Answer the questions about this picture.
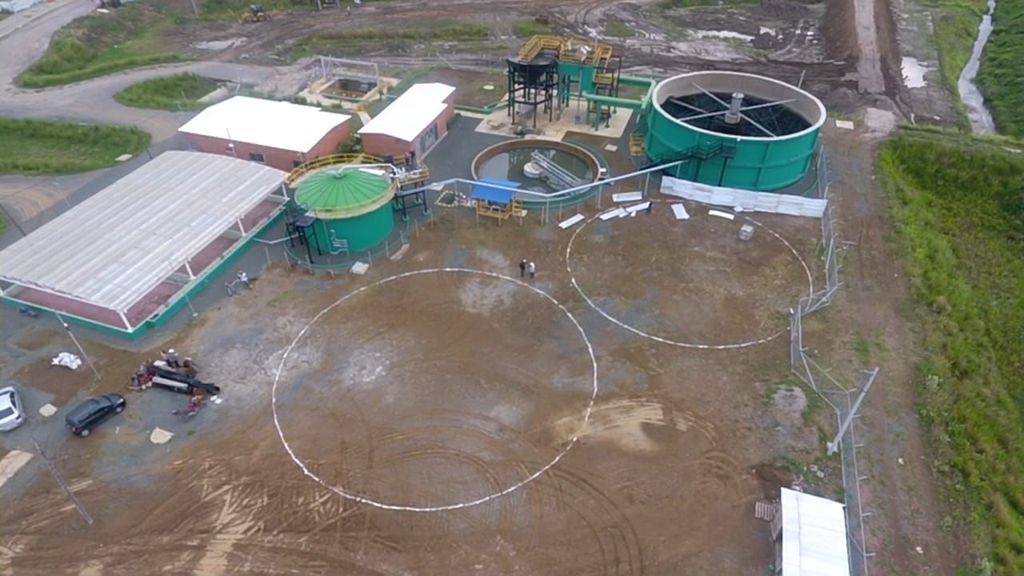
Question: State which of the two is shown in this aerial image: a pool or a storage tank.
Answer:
storage tank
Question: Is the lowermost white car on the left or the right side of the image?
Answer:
left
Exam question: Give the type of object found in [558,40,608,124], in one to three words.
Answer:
storage tank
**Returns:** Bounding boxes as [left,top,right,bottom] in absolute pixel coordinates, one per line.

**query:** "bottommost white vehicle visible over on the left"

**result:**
[0,384,23,429]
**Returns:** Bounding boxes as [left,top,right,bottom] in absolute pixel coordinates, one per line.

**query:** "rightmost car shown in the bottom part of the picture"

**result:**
[59,389,125,435]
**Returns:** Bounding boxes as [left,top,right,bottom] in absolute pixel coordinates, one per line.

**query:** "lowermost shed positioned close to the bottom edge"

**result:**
[769,488,849,576]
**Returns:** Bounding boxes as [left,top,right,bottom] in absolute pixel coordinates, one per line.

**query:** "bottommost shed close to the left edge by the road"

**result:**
[0,153,287,340]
